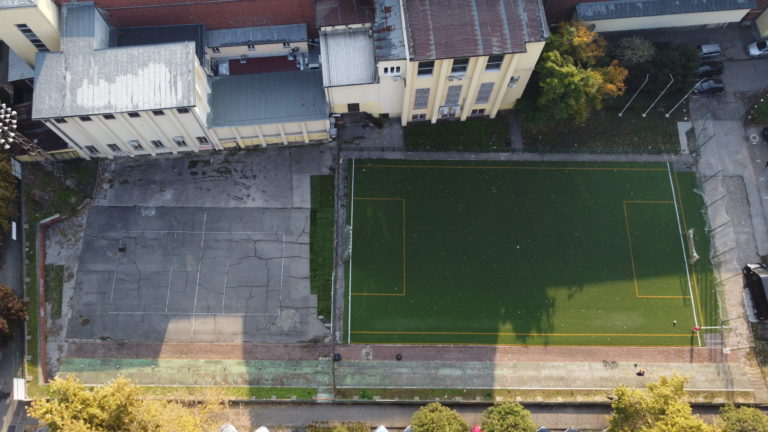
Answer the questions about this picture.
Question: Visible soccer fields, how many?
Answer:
1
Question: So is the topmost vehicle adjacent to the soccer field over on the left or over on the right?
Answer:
right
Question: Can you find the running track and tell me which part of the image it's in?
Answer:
bottom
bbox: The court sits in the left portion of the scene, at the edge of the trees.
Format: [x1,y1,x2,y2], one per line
[70,152,330,341]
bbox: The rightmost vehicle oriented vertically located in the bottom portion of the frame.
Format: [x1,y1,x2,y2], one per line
[744,262,768,322]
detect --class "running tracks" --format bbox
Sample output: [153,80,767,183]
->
[58,341,754,400]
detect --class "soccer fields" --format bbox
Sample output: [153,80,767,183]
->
[342,158,733,347]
